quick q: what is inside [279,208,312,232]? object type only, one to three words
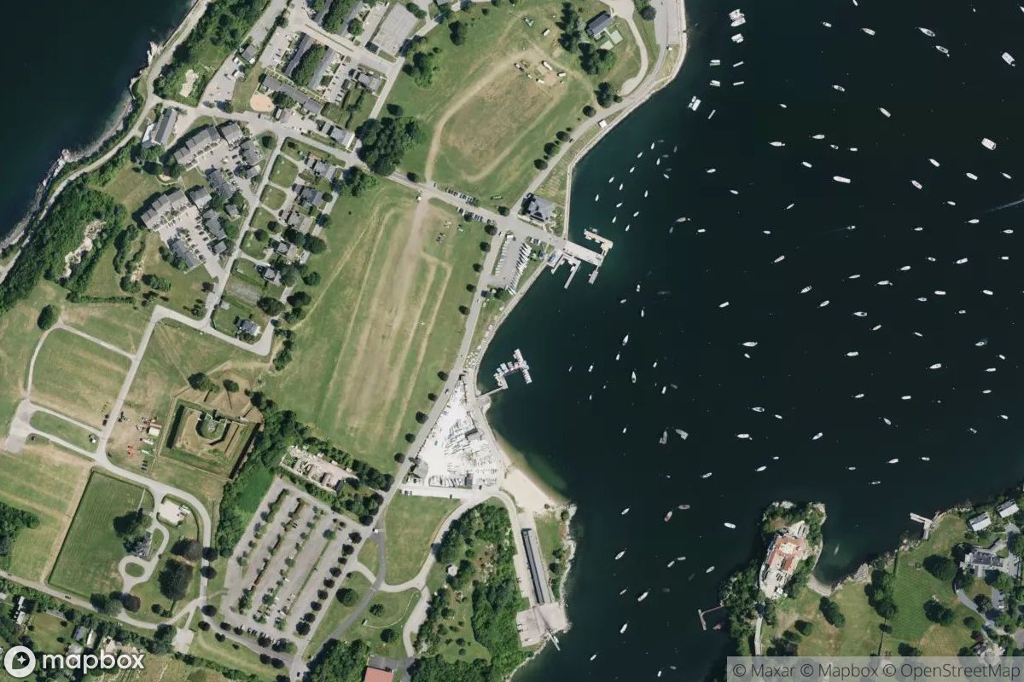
house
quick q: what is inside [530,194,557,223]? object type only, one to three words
building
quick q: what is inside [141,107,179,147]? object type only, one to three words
building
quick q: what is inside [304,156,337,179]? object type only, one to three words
house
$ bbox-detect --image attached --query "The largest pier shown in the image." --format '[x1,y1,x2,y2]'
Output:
[562,240,605,266]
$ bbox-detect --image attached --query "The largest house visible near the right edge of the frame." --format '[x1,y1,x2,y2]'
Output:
[967,551,1010,570]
